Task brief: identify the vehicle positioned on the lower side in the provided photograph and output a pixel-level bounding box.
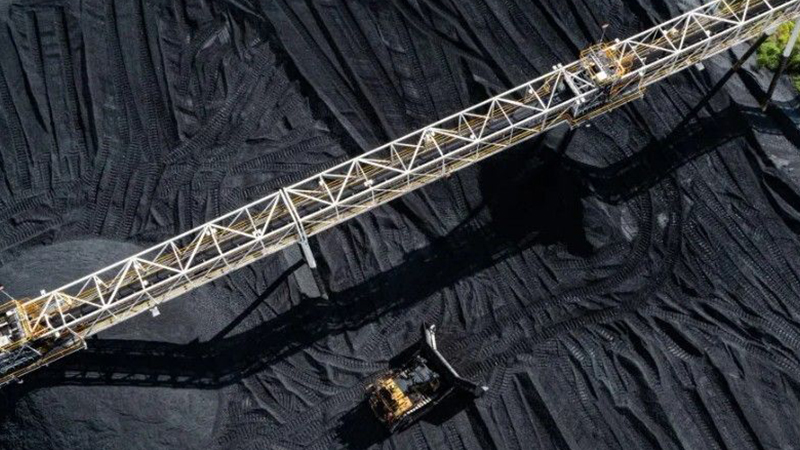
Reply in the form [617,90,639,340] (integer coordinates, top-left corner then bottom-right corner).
[370,323,485,434]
